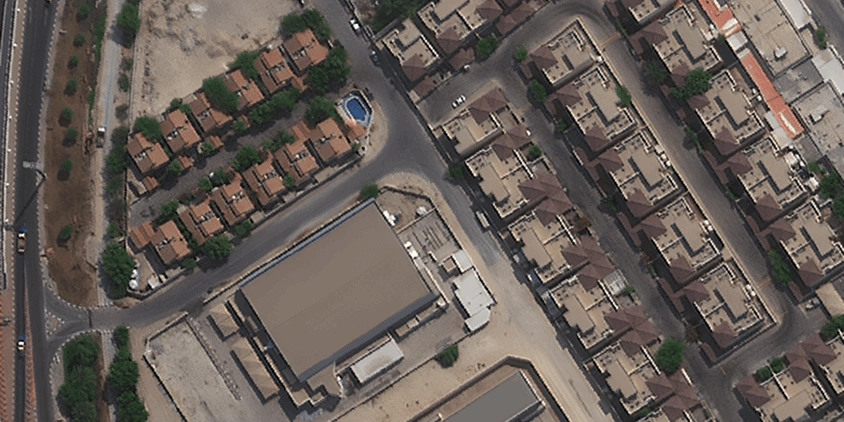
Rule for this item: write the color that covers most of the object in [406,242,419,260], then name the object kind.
white vehicle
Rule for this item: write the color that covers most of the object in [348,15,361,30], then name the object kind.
white vehicle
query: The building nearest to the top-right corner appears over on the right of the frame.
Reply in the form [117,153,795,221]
[781,0,814,31]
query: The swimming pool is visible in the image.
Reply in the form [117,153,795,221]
[342,92,372,128]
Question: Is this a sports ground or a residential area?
residential area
